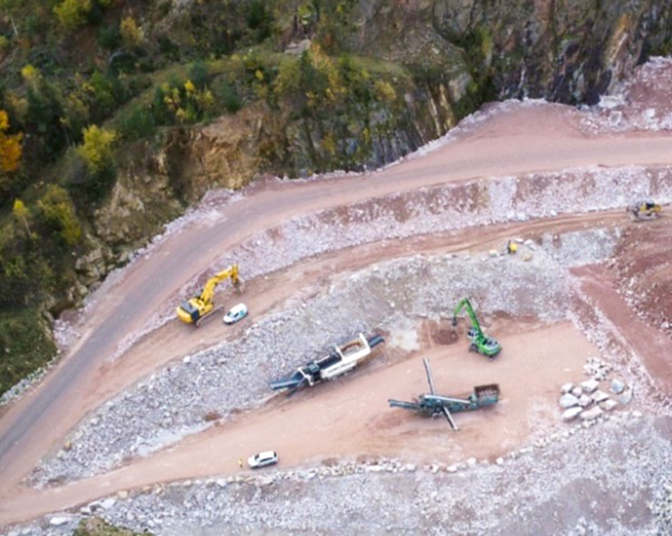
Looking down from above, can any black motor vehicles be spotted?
No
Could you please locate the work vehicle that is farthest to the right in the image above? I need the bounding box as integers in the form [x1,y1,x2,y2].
[627,199,661,221]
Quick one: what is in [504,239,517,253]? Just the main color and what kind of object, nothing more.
yellow vehicle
